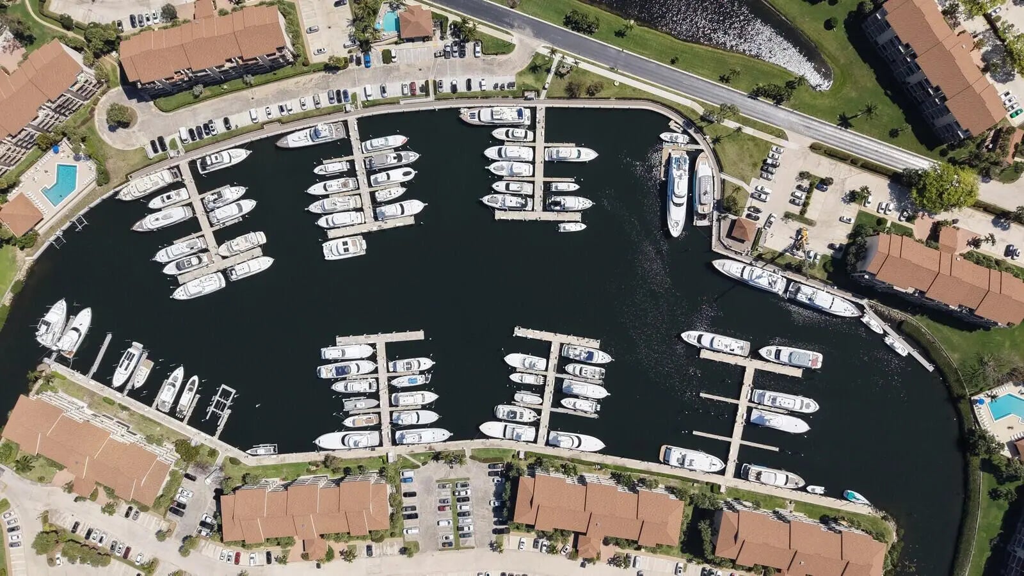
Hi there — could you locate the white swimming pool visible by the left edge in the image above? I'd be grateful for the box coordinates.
[11,139,97,228]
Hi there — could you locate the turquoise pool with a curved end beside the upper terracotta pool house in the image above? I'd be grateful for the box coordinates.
[374,2,404,42]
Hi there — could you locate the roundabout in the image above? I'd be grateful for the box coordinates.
[94,86,154,151]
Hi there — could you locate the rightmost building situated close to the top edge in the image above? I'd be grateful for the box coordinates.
[863,0,1013,142]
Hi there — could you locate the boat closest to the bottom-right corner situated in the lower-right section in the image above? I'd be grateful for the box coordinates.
[840,489,870,505]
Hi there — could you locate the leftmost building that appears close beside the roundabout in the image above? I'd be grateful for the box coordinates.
[0,36,98,170]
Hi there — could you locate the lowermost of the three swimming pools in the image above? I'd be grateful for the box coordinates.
[973,382,1024,456]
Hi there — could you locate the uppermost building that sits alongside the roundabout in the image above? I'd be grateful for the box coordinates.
[115,3,294,95]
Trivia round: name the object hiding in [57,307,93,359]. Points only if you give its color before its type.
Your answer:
white boat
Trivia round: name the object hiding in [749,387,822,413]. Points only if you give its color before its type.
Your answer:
white boat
